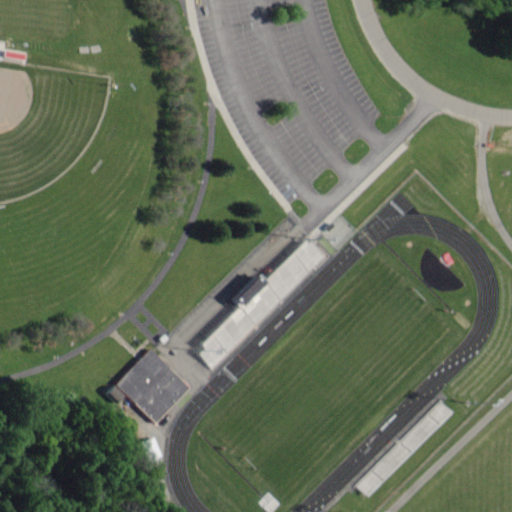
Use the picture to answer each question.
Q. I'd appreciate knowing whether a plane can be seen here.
No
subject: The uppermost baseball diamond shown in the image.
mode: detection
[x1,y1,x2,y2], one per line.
[0,63,109,204]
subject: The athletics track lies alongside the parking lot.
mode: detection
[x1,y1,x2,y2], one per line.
[167,189,496,512]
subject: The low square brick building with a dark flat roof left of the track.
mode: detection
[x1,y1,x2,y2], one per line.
[110,350,190,424]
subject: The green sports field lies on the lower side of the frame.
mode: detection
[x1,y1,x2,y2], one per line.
[186,234,477,512]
